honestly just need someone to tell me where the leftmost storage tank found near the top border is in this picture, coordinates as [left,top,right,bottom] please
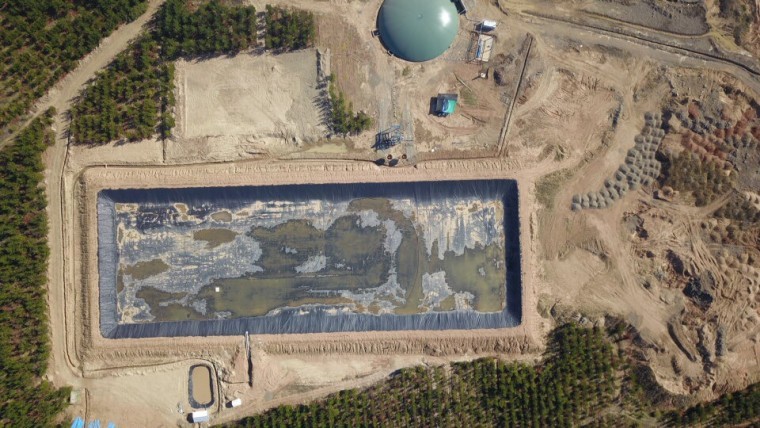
[372,0,460,63]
